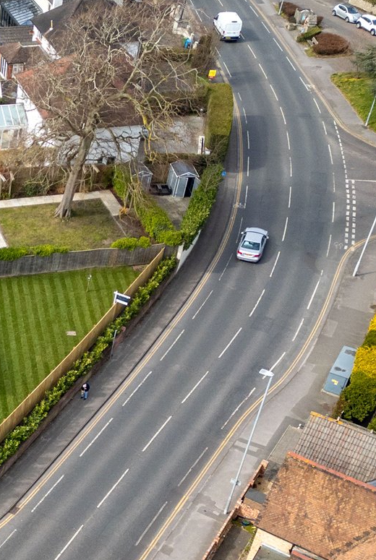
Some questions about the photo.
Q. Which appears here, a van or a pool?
van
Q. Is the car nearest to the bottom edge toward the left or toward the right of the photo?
right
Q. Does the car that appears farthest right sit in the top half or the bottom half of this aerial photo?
top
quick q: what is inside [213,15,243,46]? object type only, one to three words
van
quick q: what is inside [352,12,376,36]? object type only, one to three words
car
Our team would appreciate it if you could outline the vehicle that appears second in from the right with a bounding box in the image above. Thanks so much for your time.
[326,5,357,24]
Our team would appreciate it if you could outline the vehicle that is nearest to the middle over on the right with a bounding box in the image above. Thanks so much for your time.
[236,229,269,265]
